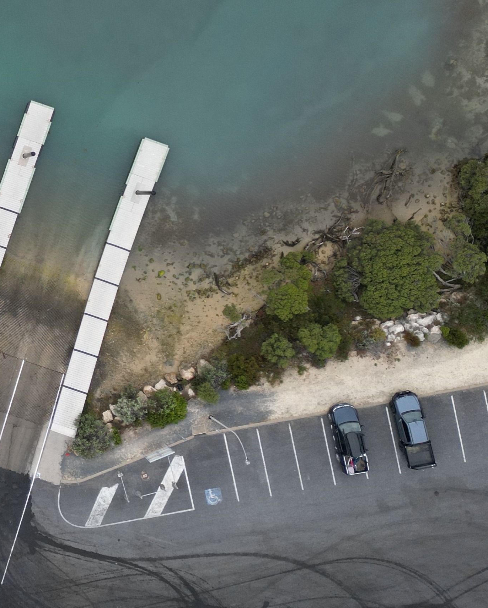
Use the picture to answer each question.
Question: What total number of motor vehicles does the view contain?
2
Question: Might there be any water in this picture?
Yes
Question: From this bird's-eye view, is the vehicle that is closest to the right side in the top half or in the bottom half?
bottom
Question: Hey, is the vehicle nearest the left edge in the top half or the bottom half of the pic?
bottom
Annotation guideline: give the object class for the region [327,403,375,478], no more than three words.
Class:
vehicle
